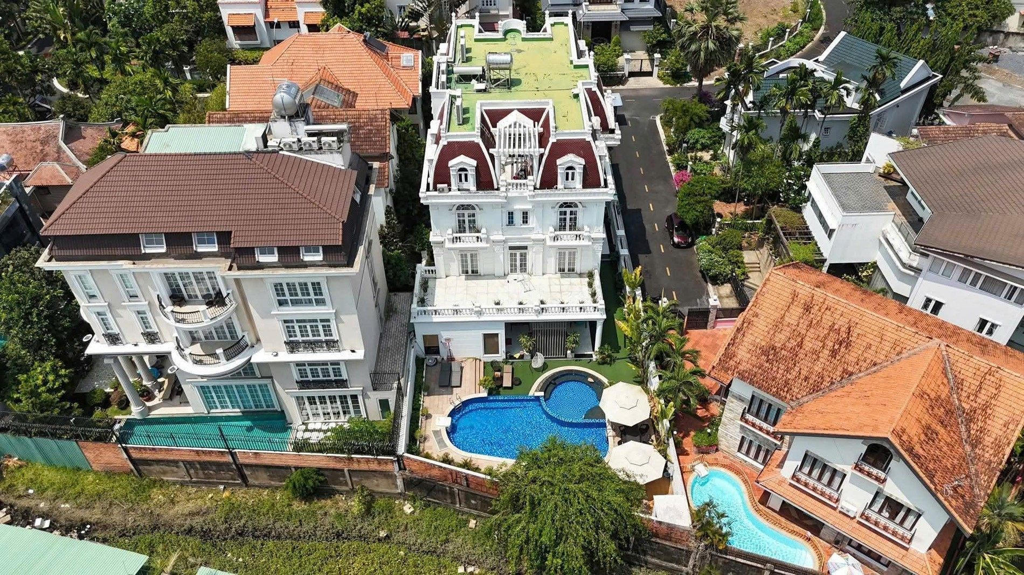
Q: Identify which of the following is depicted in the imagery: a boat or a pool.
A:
pool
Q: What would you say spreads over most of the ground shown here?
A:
buildings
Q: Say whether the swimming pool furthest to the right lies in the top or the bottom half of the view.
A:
bottom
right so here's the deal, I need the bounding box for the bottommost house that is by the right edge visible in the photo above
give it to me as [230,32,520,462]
[697,266,1024,575]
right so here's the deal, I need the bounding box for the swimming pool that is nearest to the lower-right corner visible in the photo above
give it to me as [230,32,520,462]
[685,462,820,575]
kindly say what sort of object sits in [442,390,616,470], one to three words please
swimming pool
